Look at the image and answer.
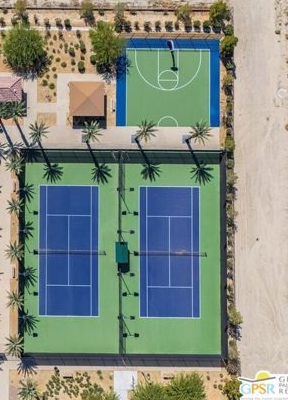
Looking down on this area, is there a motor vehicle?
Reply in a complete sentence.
No, this view has no motor vehicle in it.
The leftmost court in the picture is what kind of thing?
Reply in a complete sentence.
Looking closely, the leftmost court is a tennis court.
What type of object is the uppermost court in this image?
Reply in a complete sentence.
I'd identify the uppermost court as a basketball court.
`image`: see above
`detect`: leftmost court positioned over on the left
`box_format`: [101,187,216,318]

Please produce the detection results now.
[19,150,119,354]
